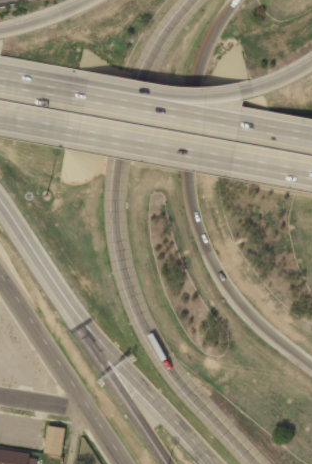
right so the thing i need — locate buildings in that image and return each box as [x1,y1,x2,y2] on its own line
[0,450,38,464]
[44,426,66,461]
